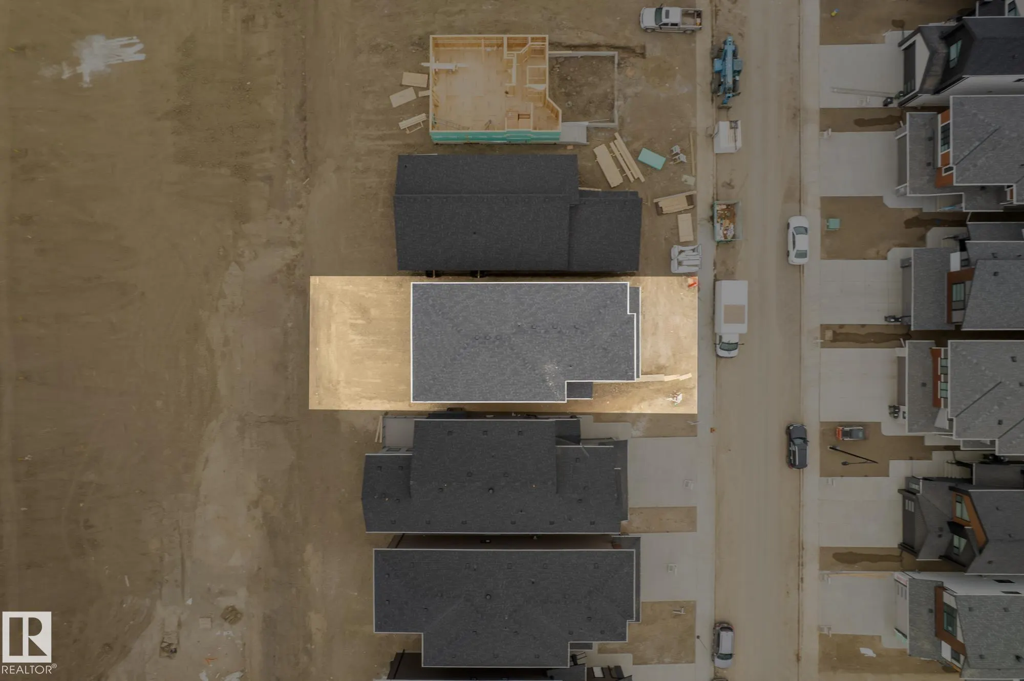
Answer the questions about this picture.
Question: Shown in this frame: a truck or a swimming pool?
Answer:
truck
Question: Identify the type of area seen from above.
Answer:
residential area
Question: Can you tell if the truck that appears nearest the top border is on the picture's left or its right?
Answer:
right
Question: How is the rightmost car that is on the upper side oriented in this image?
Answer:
up and down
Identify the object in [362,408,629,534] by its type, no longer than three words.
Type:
house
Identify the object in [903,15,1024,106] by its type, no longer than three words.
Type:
house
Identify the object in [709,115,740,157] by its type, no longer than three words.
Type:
trailer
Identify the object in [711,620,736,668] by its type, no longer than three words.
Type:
car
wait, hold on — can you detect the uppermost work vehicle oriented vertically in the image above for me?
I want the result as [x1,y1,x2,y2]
[709,37,744,122]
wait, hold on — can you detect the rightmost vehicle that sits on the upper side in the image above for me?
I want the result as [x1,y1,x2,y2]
[785,216,810,265]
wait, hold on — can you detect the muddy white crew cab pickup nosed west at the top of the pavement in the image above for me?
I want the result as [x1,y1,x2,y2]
[638,2,703,35]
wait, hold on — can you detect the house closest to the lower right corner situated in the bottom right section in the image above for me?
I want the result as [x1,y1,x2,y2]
[894,573,1024,681]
